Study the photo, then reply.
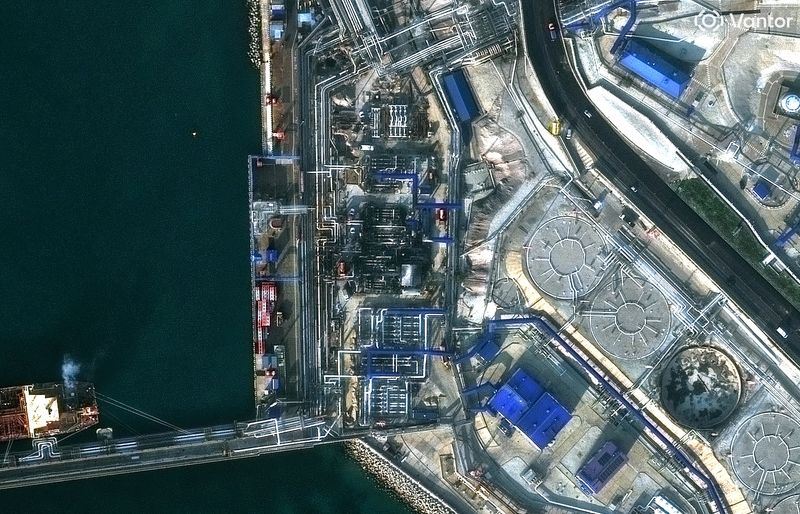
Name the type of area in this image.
industrial area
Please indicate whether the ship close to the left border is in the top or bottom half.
bottom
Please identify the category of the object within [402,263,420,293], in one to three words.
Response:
shed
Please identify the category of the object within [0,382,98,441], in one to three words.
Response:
ship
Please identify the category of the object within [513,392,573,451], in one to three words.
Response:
building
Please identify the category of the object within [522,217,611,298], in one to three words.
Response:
storage tank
